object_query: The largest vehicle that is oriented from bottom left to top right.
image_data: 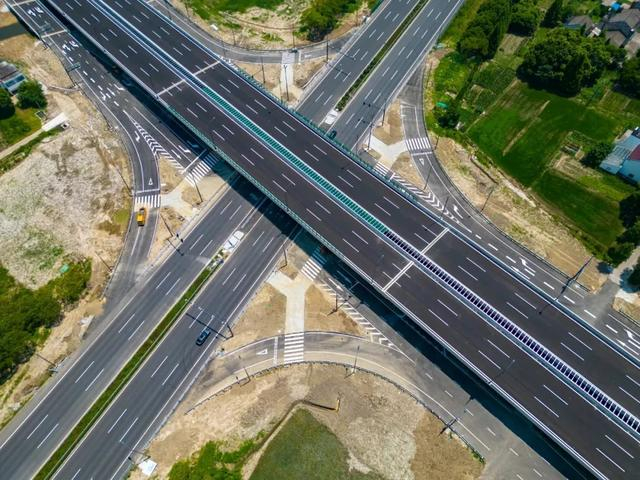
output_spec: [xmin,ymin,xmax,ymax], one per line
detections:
[196,327,211,345]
